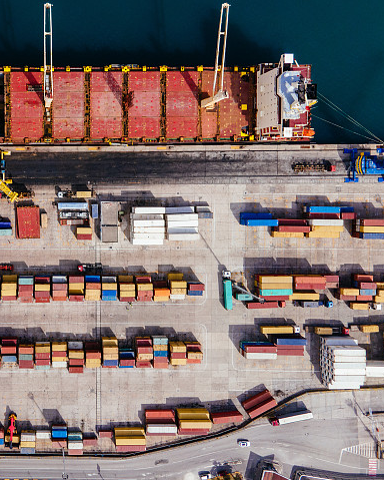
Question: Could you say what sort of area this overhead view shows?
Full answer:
What you see here is a port.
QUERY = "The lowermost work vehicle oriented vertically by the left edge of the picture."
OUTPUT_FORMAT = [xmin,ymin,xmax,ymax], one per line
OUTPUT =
[5,415,20,448]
